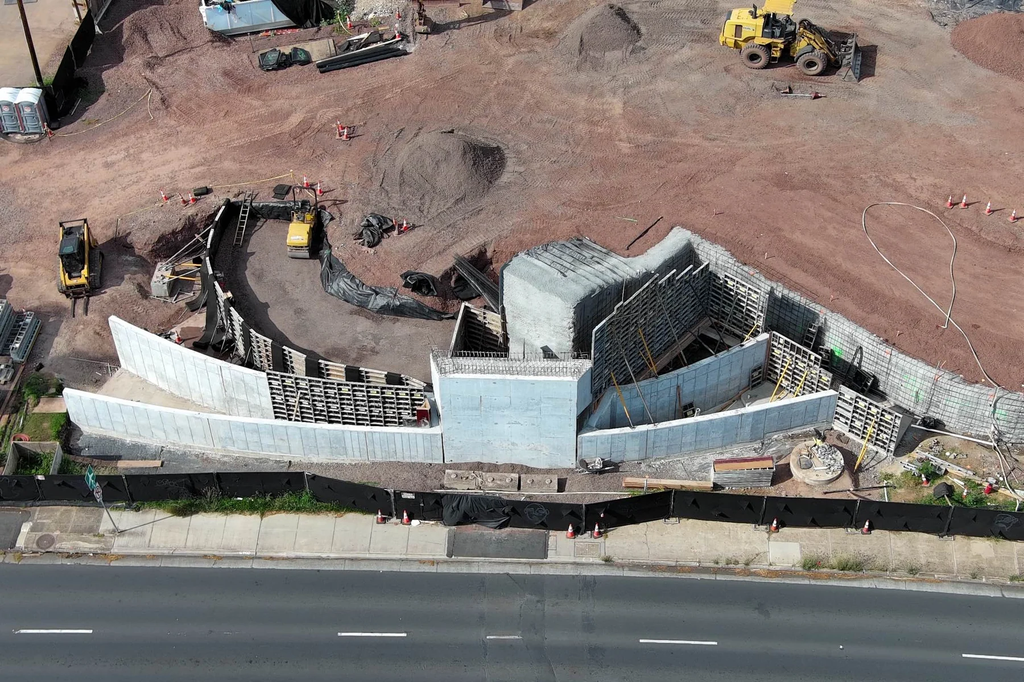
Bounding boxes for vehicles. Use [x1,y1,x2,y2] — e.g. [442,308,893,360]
[711,0,859,87]
[55,215,106,314]
[413,0,432,31]
[286,190,315,257]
